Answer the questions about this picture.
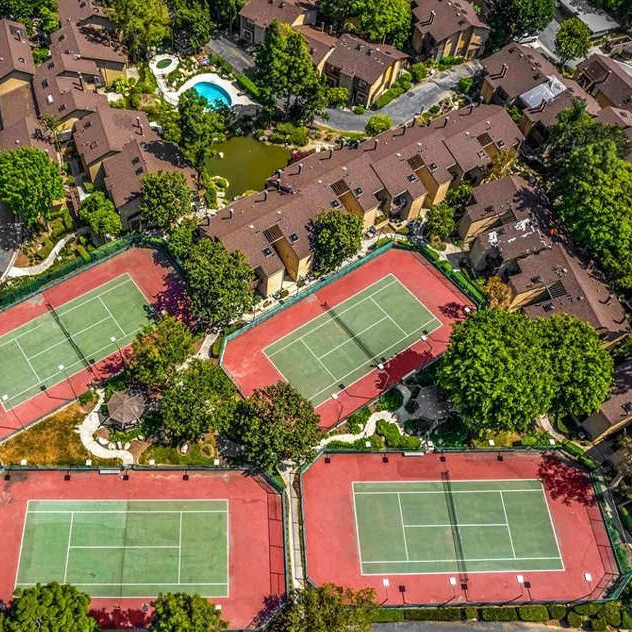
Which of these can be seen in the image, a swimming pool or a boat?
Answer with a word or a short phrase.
swimming pool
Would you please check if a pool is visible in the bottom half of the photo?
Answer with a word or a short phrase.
No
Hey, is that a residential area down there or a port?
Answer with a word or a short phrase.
residential area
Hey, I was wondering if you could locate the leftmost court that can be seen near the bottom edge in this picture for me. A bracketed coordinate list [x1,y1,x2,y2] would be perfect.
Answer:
[0,470,287,632]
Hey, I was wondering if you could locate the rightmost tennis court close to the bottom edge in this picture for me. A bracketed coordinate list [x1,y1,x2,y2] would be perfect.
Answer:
[297,451,623,609]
